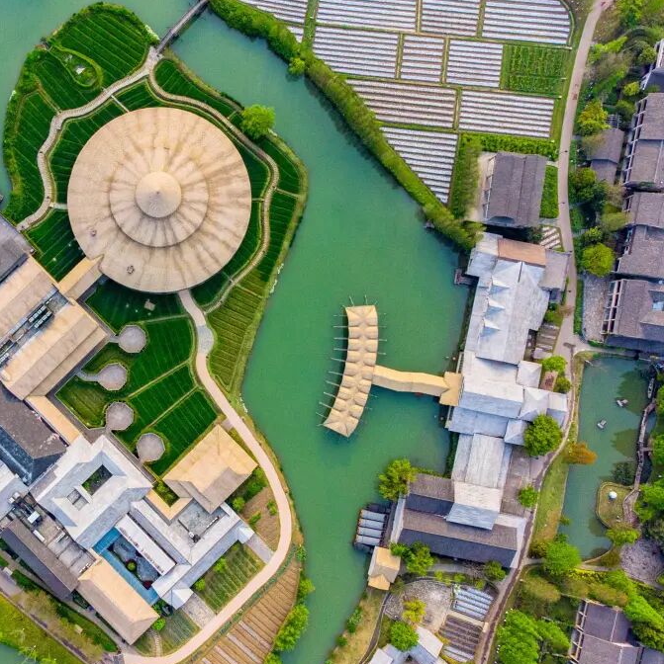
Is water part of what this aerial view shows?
Yes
